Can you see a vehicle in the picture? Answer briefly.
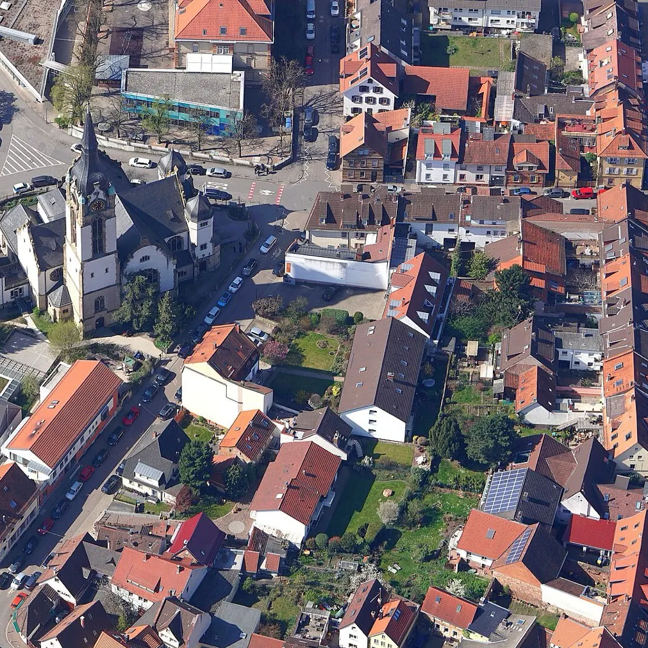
Yes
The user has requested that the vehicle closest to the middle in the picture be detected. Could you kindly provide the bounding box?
[321,283,341,300]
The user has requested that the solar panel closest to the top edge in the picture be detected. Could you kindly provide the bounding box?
[486,473,524,515]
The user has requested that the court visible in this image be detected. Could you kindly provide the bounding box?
[110,27,143,67]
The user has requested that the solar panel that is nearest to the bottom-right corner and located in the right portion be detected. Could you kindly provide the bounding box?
[503,528,531,560]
